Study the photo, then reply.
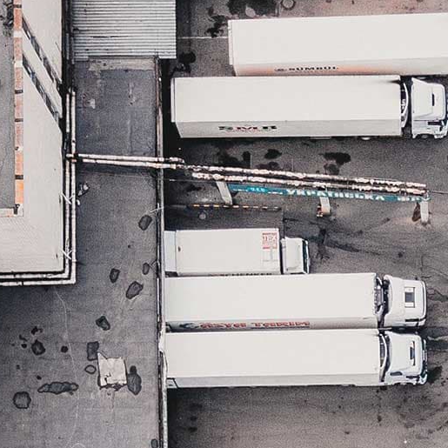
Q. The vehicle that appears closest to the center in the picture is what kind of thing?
truck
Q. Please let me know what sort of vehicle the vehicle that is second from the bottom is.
truck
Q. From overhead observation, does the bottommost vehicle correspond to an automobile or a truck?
truck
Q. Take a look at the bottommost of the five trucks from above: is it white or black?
white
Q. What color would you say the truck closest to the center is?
white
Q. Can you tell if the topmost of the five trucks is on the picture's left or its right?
right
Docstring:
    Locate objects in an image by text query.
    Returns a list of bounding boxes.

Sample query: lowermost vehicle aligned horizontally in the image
[166,329,430,391]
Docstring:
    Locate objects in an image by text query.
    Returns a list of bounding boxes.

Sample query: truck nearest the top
[228,13,448,82]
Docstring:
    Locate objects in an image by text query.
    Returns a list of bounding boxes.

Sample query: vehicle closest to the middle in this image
[164,228,310,277]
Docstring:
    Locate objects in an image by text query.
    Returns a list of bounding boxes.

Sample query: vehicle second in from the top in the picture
[170,76,448,145]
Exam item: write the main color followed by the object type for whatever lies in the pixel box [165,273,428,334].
white truck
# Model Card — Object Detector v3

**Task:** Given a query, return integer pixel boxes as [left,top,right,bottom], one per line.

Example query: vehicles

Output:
[166,329,430,391]
[164,228,310,277]
[165,273,428,334]
[228,13,448,82]
[170,76,448,145]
